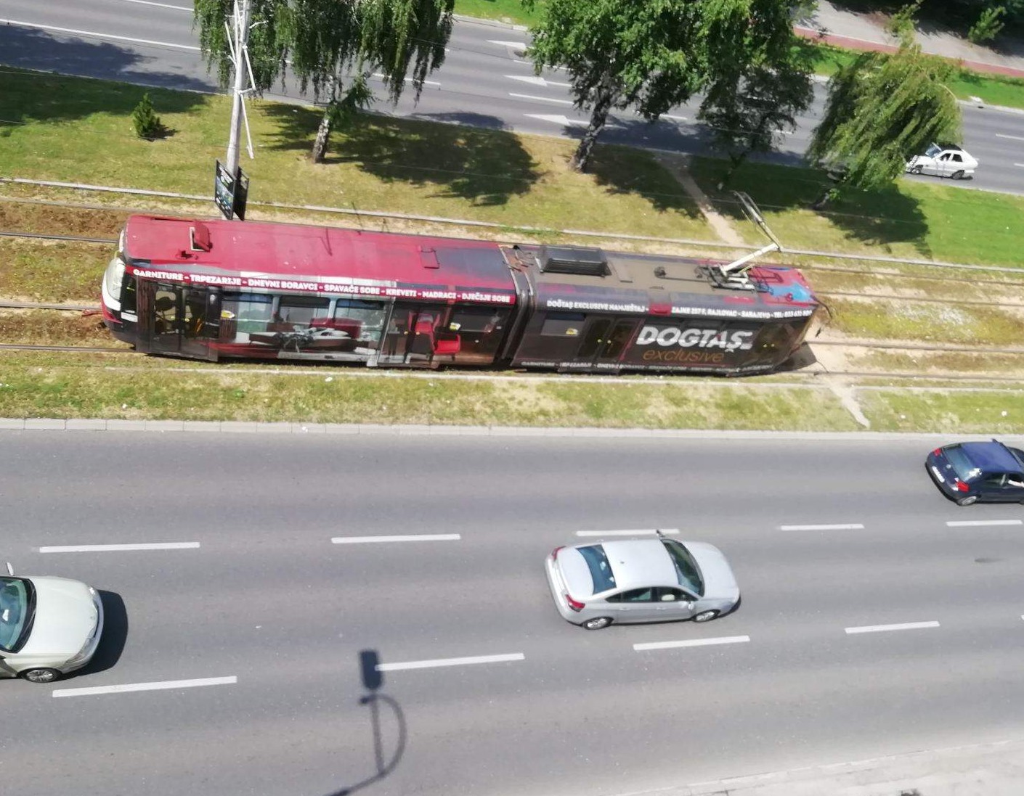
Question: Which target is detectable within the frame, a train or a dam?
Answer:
train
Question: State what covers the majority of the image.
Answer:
paved ground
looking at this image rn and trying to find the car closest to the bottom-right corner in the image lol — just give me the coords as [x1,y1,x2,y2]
[930,436,1024,504]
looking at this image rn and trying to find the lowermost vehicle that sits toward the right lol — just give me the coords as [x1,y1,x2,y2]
[551,531,743,630]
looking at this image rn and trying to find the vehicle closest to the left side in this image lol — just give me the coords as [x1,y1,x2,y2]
[0,562,104,683]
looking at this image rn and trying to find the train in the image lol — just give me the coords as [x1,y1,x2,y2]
[80,192,821,375]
